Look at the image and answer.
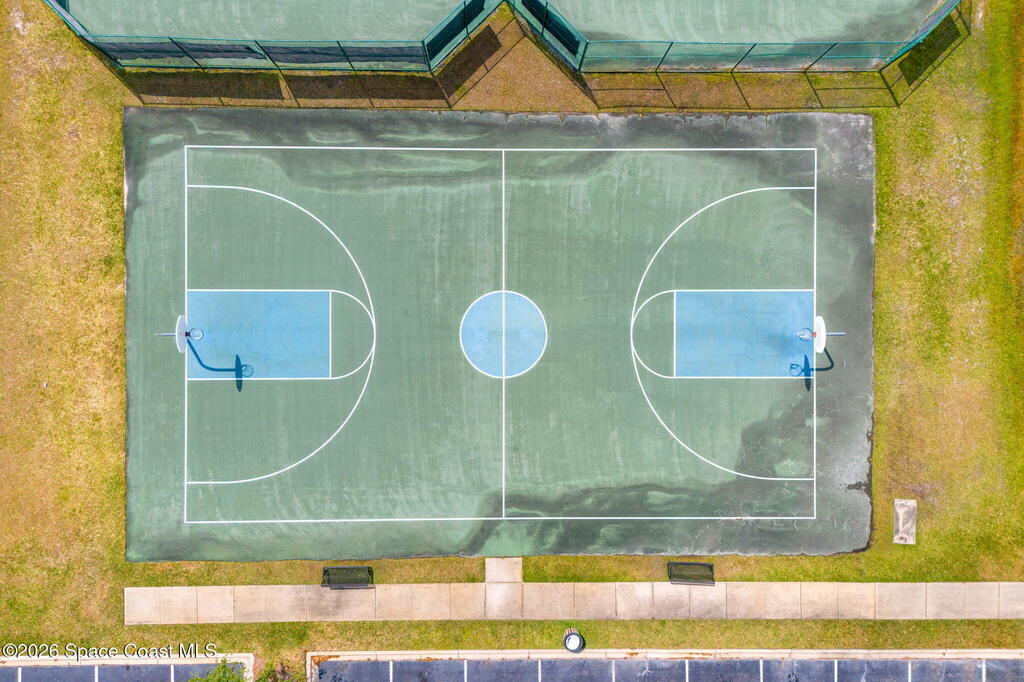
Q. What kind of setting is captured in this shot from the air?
sports ground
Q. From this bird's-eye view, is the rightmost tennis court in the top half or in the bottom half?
top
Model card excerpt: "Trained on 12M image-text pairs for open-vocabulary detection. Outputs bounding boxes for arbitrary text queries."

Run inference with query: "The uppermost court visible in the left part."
[58,0,503,71]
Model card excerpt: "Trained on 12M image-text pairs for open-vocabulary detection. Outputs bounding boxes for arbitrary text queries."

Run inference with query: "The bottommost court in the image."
[123,107,875,562]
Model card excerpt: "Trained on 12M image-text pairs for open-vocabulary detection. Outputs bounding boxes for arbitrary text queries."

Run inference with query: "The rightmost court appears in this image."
[508,0,948,72]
